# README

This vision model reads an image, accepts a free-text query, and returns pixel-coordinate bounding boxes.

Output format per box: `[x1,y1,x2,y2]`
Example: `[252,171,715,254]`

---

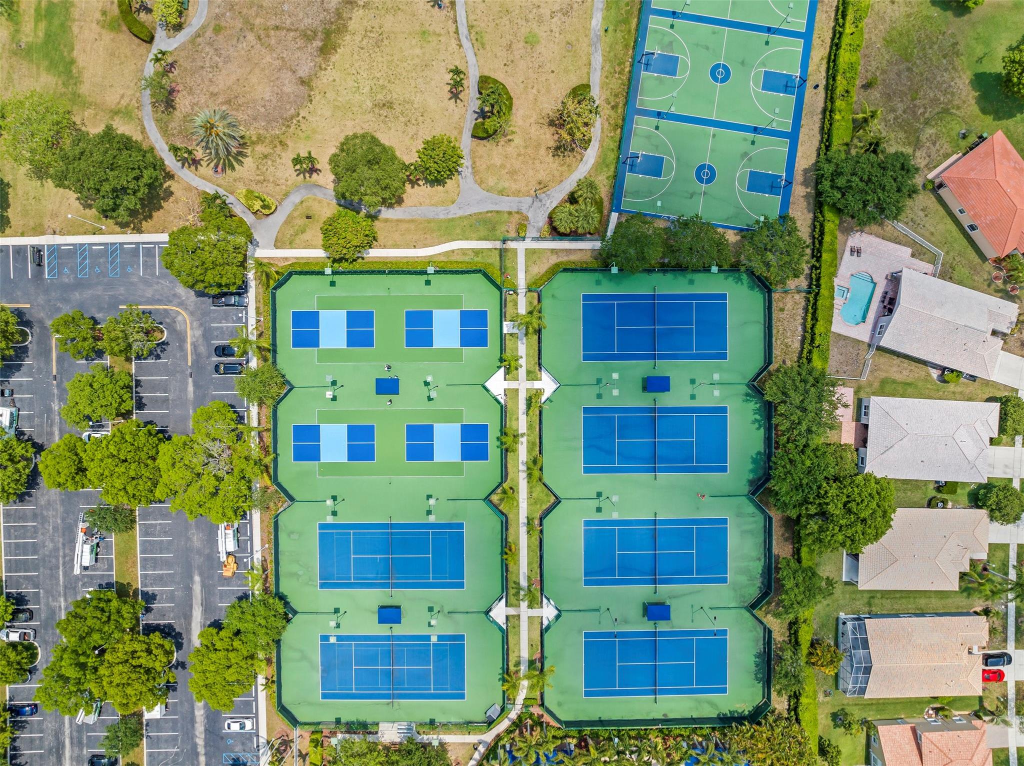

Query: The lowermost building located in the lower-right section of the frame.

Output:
[872,712,993,766]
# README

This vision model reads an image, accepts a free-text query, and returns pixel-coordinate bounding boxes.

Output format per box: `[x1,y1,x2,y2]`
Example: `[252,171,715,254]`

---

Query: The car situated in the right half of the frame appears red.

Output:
[982,668,1006,683]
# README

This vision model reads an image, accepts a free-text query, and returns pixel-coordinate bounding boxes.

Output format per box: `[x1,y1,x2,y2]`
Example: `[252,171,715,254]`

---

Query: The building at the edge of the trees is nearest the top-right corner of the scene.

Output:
[935,129,1024,258]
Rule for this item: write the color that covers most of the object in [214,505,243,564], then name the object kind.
white truck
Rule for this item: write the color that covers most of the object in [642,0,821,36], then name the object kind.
green basketball court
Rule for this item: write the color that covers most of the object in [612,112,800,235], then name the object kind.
green basketball court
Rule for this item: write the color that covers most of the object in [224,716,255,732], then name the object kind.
white car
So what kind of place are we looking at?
sports ground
